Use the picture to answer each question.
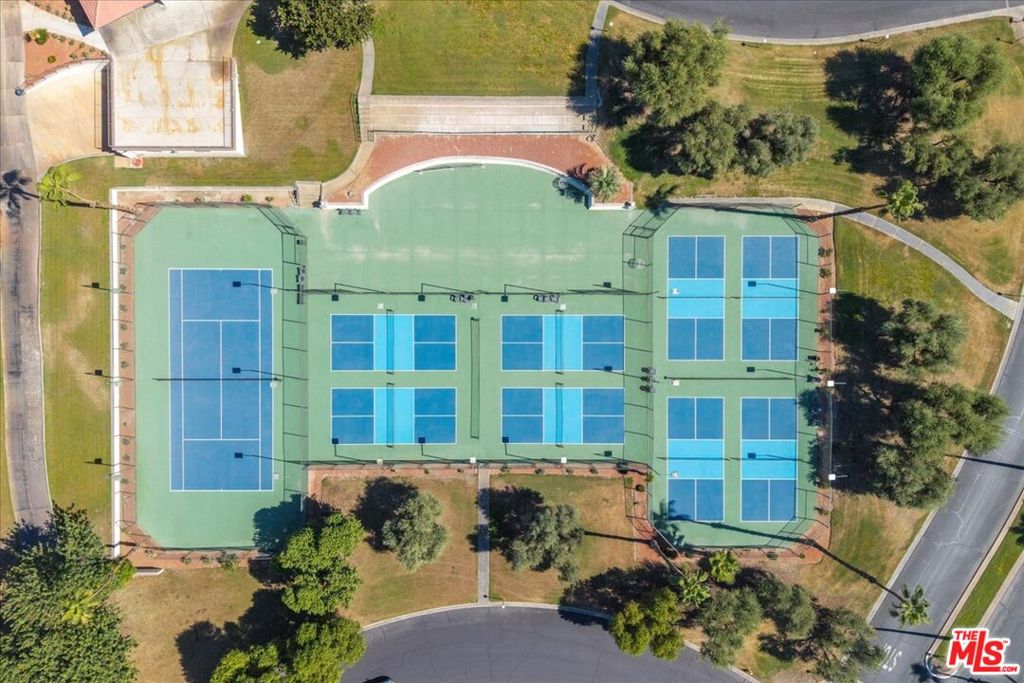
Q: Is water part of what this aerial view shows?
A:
No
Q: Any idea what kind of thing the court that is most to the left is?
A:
tennis court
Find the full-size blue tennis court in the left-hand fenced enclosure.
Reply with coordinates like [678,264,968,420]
[156,268,282,492]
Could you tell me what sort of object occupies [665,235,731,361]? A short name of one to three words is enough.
sports court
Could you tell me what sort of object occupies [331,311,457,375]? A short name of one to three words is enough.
sports court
